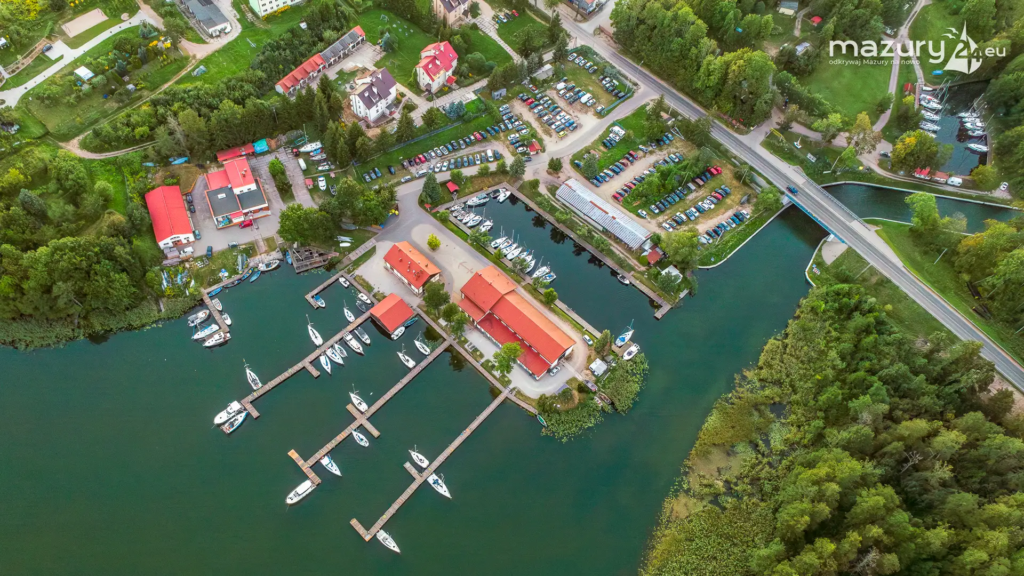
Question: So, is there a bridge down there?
Yes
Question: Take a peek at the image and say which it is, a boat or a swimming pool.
boat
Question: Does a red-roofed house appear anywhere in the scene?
Yes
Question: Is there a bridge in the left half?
No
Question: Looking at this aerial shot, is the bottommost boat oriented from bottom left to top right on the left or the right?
left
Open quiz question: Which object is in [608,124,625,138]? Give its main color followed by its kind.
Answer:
white camper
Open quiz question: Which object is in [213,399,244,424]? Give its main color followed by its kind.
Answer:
white boat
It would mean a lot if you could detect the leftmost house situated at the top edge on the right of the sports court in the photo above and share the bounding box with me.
[184,0,231,37]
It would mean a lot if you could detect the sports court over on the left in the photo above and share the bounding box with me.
[62,7,108,37]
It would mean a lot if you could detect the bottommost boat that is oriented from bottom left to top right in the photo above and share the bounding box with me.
[285,477,315,503]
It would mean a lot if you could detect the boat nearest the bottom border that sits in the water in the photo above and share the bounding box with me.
[374,529,401,554]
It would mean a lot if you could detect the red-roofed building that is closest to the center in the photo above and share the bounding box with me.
[457,266,575,380]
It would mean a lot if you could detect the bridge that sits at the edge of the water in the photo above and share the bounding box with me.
[780,166,872,243]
